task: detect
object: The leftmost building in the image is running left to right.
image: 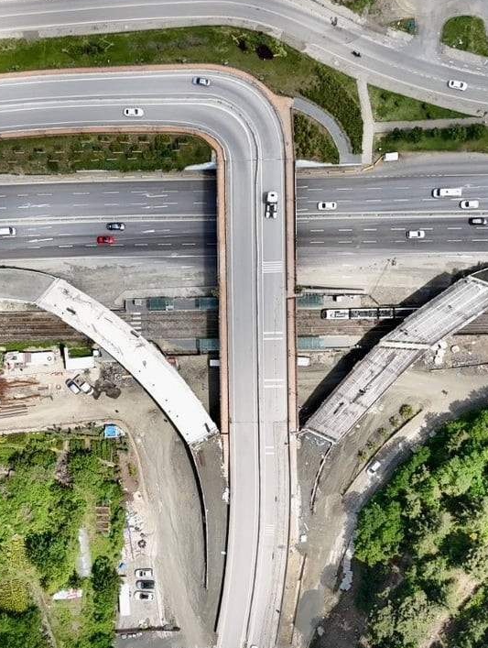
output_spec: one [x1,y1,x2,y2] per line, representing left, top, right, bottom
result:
[6,351,55,366]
